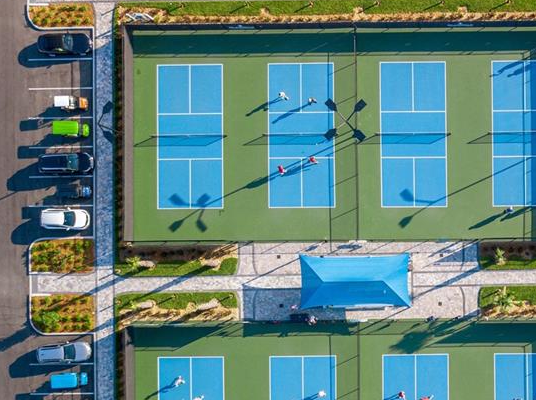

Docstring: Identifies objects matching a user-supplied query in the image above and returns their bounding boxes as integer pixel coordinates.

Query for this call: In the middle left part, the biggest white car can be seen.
[38,207,91,231]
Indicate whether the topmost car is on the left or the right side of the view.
left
